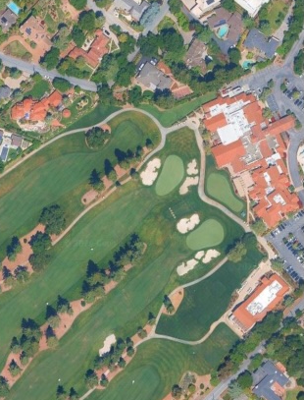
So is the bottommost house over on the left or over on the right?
right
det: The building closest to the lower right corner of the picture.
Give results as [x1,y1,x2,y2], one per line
[249,358,289,400]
